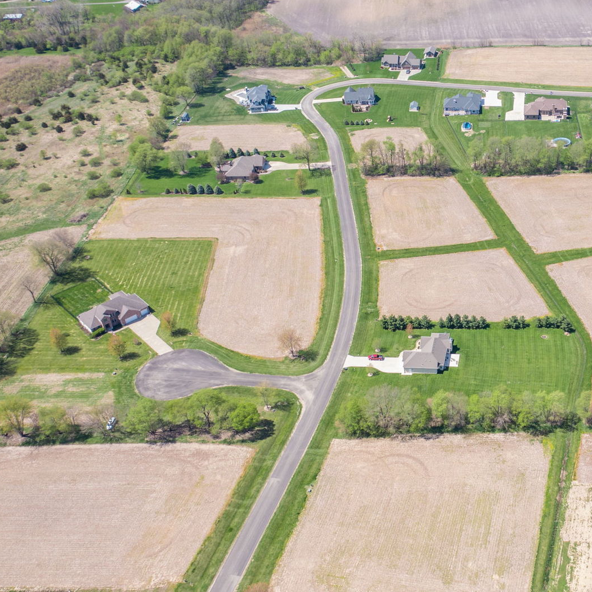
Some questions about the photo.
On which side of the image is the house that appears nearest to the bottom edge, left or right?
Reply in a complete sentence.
The house that appears nearest to the bottom edge appears in the right half of the scene.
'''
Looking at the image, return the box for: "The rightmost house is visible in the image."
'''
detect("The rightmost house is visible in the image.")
[523,101,567,119]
